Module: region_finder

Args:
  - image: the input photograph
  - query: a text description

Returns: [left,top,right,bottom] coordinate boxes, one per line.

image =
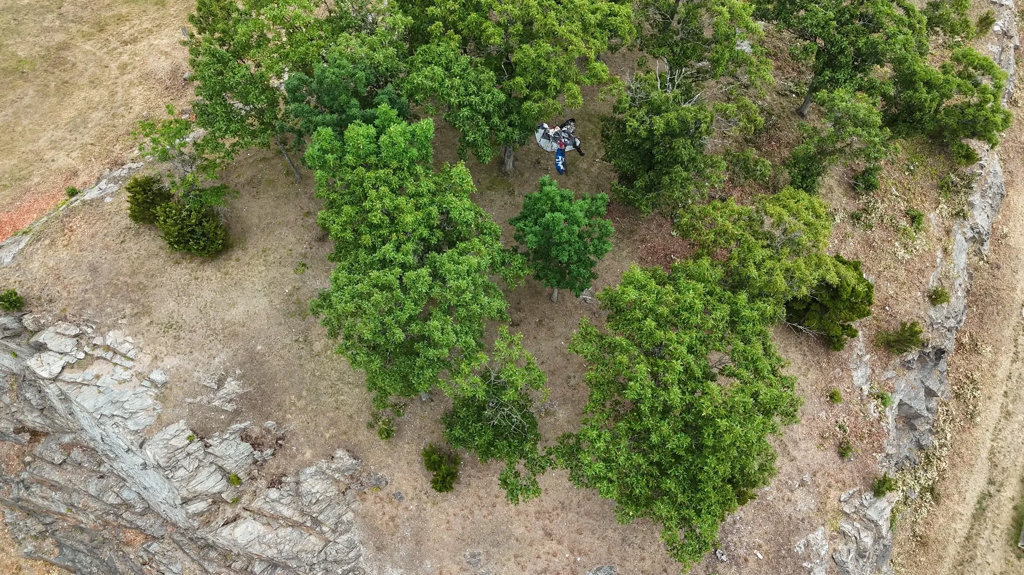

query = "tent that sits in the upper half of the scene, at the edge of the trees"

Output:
[535,124,580,151]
